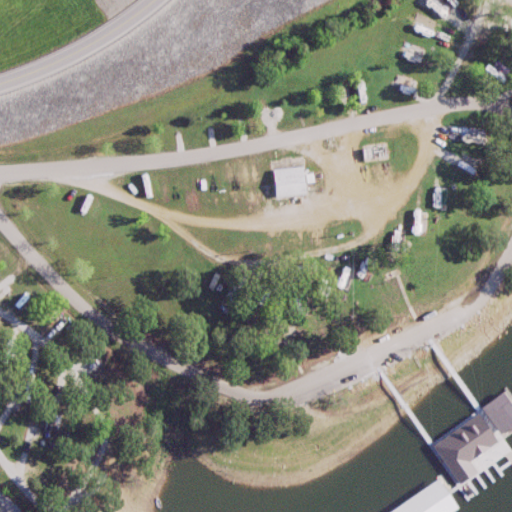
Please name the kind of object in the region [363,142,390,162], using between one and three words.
building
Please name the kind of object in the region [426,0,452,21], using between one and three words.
camper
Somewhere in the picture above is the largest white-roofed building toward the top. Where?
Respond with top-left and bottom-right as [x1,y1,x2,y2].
[274,166,307,200]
